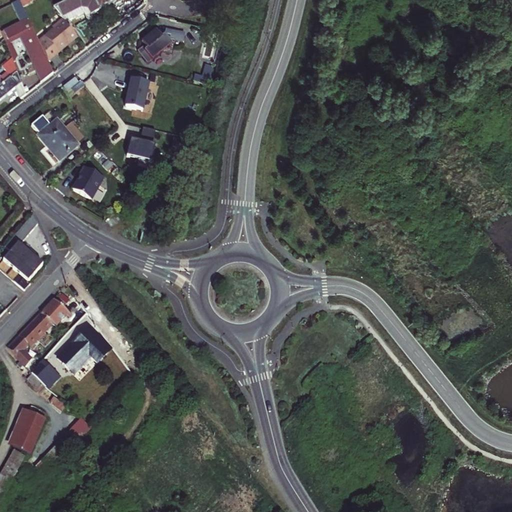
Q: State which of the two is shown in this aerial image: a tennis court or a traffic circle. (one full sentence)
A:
Visible in the photo is a traffic circle.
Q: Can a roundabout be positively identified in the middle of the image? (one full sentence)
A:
Yes, a roundabout can be seen in the middle of the image.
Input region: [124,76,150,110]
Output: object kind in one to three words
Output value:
house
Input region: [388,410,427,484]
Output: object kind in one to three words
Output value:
pond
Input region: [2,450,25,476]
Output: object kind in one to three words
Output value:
shed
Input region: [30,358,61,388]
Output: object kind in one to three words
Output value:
building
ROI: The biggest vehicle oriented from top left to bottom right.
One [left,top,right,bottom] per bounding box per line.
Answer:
[10,169,25,186]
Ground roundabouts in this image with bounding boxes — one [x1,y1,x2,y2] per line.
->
[142,200,328,386]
